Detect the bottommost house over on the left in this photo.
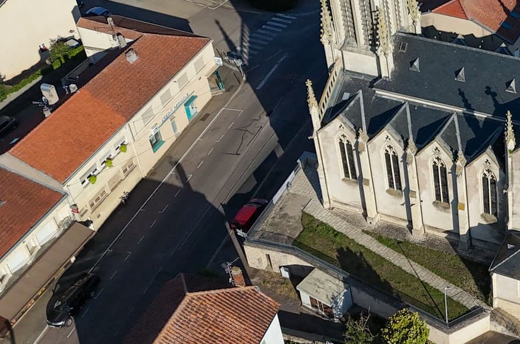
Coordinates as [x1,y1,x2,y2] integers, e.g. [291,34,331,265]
[99,267,284,344]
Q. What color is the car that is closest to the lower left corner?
black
